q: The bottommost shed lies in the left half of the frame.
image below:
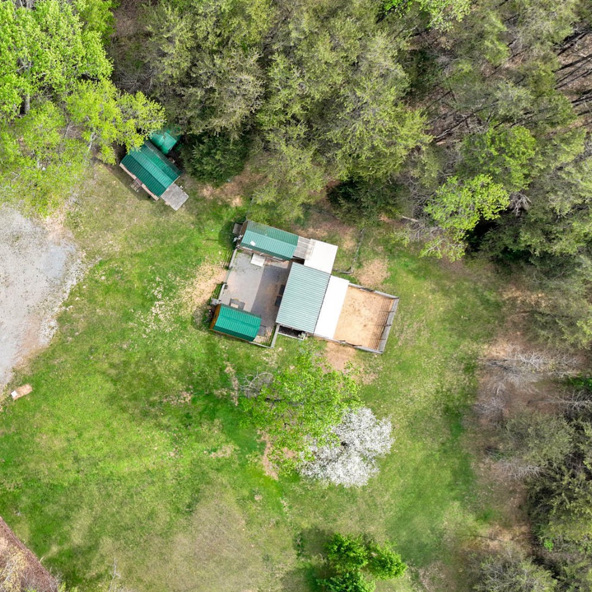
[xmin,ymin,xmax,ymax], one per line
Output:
[209,304,262,341]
